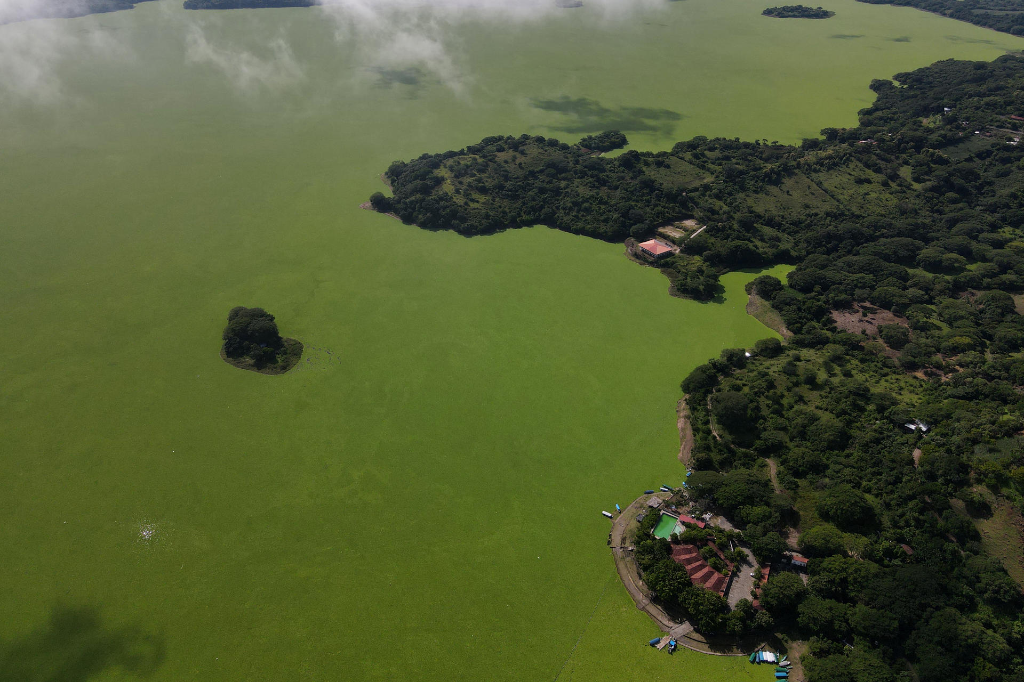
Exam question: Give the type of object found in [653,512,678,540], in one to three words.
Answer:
swimming pool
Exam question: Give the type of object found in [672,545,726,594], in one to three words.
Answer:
building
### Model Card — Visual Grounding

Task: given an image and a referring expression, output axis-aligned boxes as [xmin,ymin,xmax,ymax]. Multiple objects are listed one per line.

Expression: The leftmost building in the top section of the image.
[639,239,671,259]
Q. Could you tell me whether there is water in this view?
Yes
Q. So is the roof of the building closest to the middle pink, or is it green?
pink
